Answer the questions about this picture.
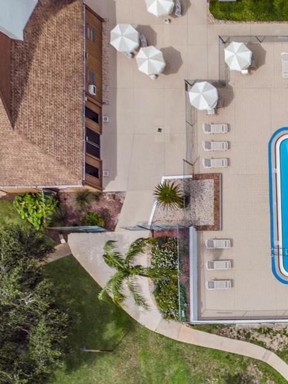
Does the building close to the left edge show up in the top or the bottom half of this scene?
top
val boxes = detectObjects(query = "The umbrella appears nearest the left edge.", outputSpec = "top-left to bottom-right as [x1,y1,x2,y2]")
[111,24,142,56]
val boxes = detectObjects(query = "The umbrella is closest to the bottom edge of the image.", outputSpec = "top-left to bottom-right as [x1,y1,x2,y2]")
[189,82,219,112]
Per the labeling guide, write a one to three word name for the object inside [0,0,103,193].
building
